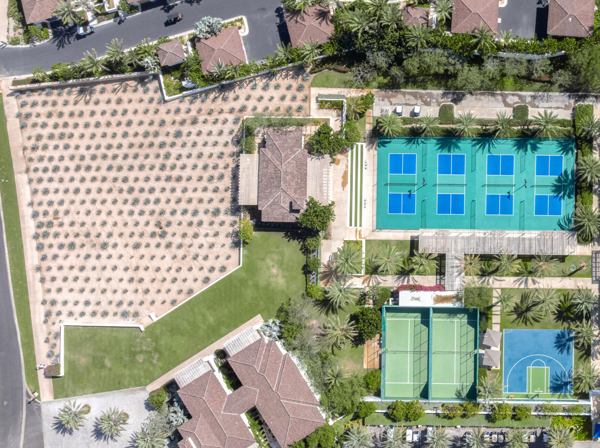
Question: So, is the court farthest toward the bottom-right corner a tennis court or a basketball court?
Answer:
basketball court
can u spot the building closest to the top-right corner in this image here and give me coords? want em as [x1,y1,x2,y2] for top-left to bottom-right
[547,0,595,38]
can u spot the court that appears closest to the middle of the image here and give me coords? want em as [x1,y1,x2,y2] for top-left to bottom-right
[376,138,424,229]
